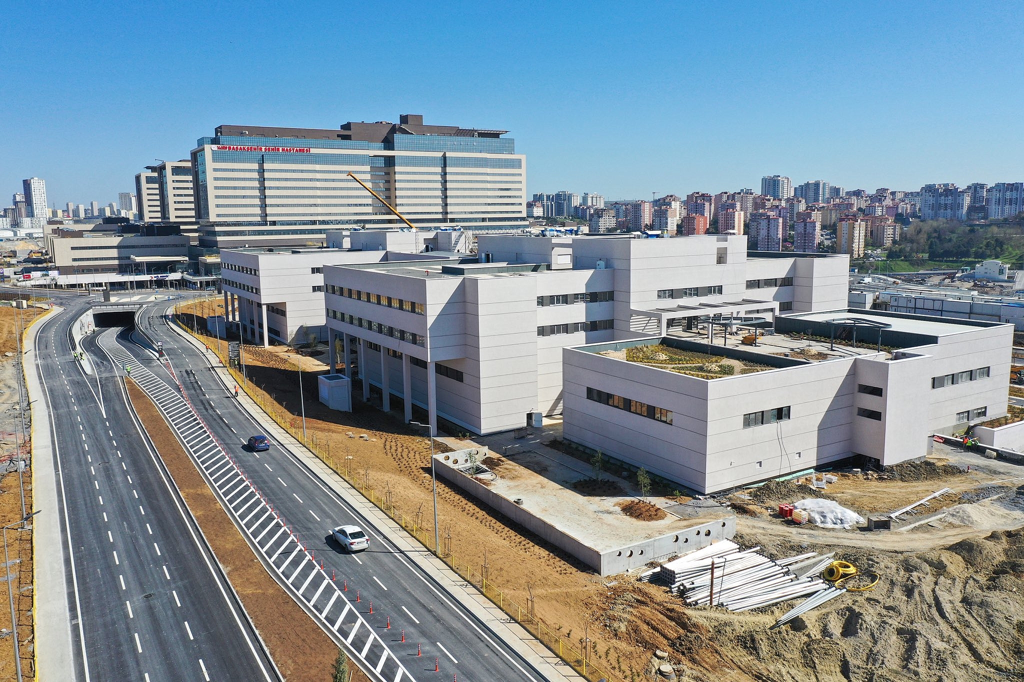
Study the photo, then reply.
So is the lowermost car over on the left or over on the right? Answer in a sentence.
The lowermost car sits on the left side.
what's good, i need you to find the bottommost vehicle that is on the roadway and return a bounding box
[333,518,371,548]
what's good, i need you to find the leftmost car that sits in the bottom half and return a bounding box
[249,430,272,447]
